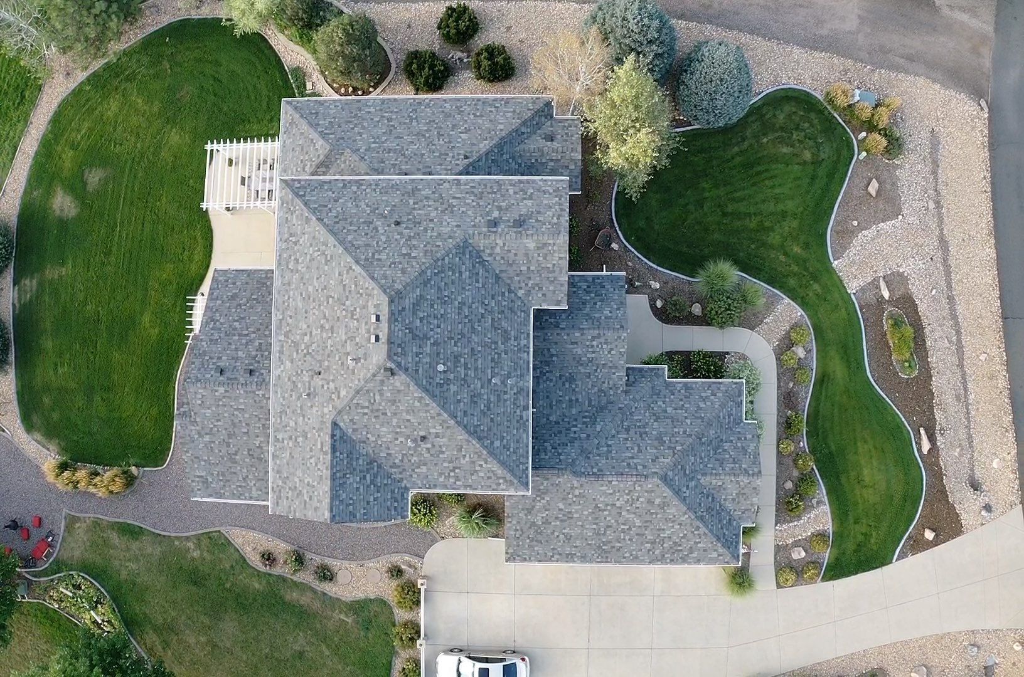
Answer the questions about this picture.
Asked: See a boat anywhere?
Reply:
No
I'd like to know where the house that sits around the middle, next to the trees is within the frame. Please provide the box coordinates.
[177,93,762,568]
